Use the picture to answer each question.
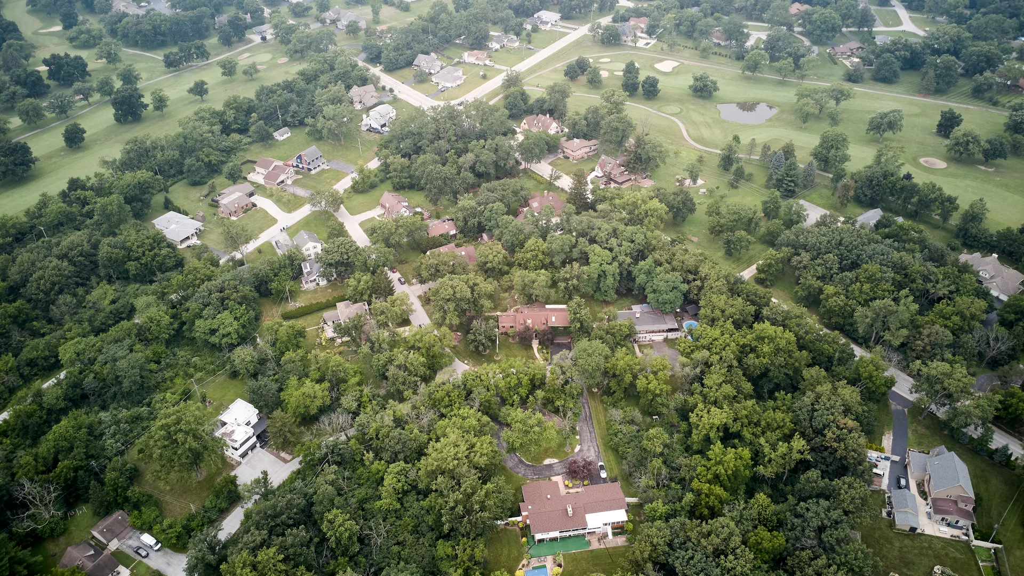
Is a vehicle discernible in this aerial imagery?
Yes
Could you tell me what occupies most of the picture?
trees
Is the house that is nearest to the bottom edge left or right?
left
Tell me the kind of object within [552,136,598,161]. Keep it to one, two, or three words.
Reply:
house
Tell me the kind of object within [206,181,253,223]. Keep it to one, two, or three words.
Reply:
house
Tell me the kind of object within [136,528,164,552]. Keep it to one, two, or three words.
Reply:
vehicle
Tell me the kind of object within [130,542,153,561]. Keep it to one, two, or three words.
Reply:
car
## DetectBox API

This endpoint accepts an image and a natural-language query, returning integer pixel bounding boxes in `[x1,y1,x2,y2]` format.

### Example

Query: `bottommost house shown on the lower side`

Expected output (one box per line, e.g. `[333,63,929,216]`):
[63,536,132,576]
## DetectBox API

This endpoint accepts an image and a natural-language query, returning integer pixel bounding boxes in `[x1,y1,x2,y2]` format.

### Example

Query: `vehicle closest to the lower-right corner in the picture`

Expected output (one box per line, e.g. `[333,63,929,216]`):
[896,471,908,489]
